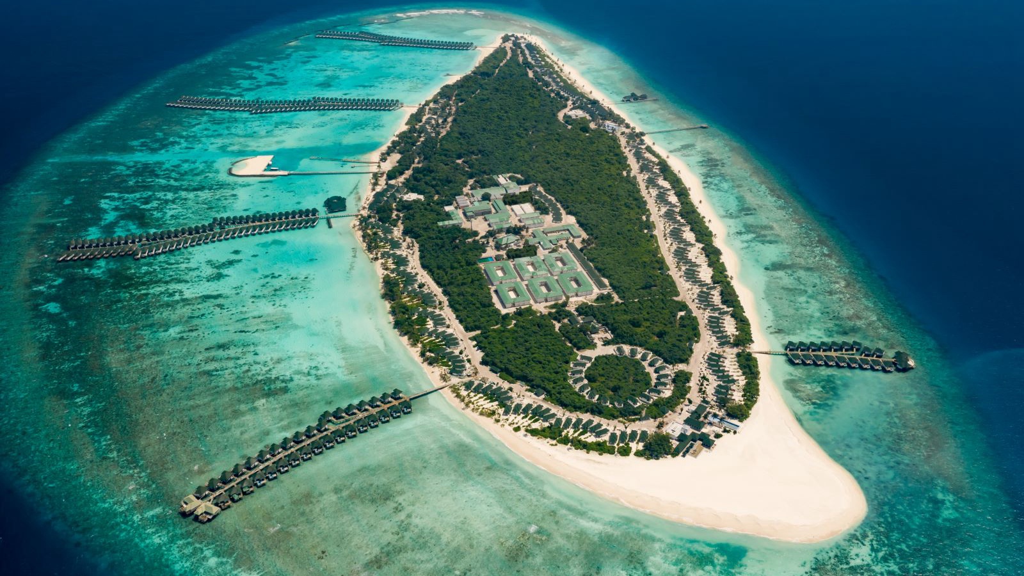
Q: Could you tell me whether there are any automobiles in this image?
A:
No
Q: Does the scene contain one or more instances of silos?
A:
No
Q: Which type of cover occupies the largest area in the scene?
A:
water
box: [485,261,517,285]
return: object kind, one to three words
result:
building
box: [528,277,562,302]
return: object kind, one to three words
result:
building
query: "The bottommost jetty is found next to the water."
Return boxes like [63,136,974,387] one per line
[203,381,450,501]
